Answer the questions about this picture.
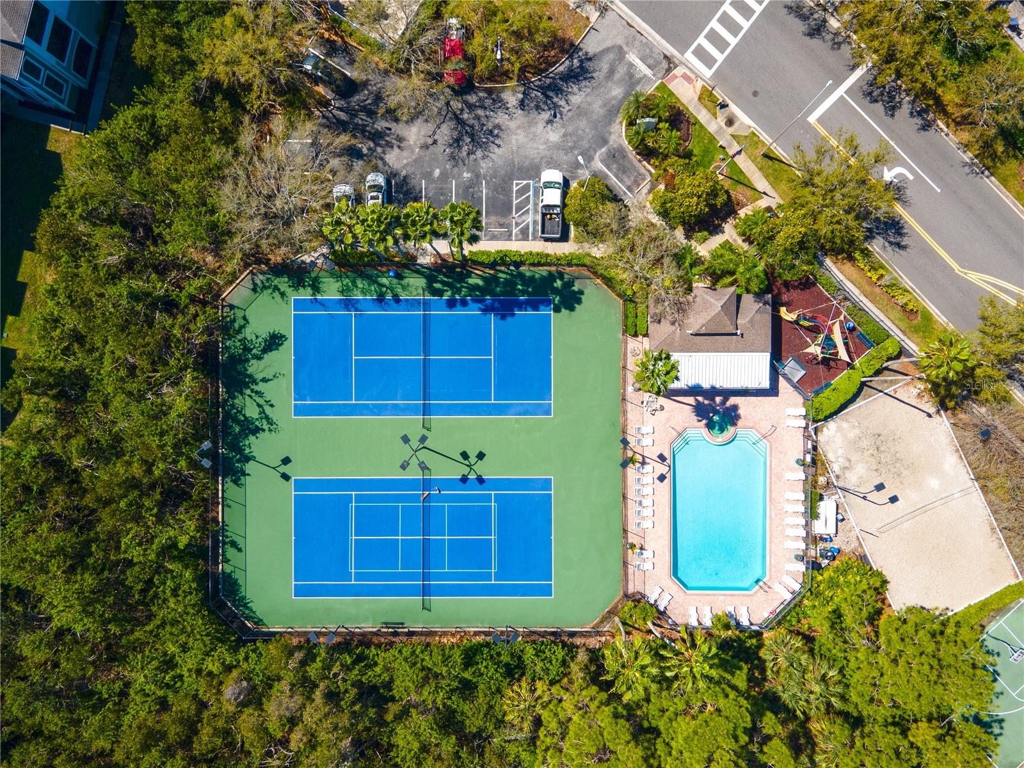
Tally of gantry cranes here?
zero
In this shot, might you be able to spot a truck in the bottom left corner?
No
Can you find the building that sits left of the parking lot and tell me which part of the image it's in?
top left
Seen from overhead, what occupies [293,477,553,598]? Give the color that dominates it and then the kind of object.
blue tennis court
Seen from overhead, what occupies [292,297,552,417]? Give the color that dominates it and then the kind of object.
blue tennis court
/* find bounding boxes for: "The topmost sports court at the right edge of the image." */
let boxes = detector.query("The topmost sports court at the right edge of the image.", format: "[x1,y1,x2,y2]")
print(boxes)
[813,378,1024,617]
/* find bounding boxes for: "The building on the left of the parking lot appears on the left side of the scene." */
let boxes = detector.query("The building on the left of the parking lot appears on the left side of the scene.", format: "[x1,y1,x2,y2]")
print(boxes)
[0,0,125,113]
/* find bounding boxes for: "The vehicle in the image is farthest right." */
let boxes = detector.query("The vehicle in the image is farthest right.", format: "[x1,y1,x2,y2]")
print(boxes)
[538,171,566,239]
